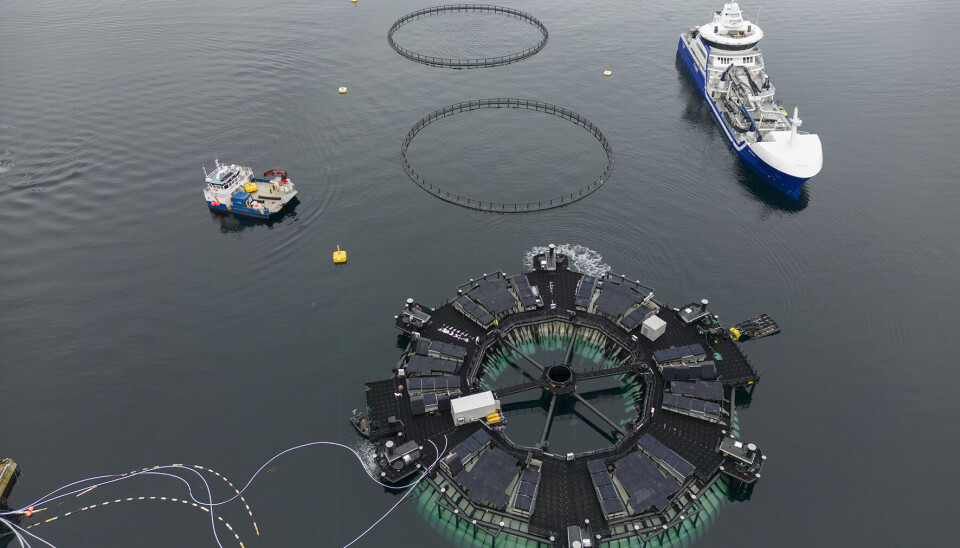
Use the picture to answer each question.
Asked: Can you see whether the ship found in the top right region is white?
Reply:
Yes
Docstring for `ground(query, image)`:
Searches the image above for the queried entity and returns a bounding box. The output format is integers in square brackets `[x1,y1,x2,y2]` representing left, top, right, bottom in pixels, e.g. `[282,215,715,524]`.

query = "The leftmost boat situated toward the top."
[203,154,297,220]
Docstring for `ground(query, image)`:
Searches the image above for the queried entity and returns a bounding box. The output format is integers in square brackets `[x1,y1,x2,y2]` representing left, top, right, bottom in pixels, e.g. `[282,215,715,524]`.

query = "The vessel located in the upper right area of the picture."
[677,0,820,209]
